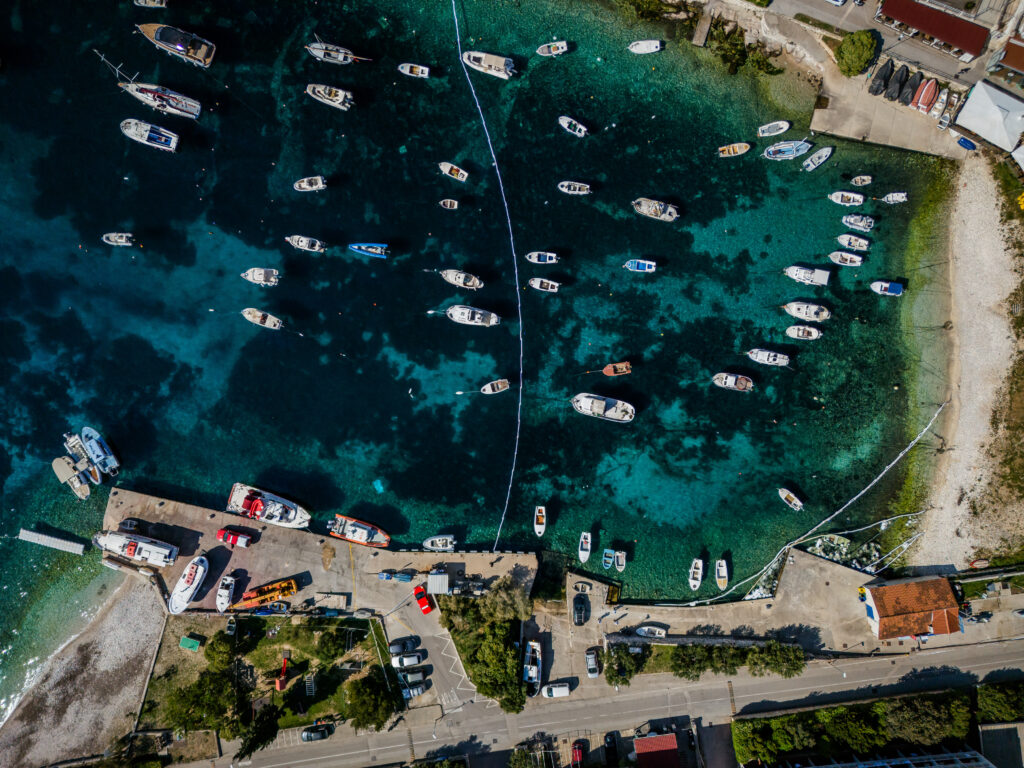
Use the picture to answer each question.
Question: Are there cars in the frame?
Yes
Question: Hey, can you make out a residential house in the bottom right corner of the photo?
Yes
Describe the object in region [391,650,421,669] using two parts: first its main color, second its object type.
white car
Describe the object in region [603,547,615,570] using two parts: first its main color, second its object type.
blue boat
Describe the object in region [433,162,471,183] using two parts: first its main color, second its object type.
white boat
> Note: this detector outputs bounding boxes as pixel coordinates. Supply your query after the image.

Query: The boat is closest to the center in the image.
[481,377,510,393]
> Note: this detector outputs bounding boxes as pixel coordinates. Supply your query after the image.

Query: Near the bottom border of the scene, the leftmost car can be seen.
[301,722,331,742]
